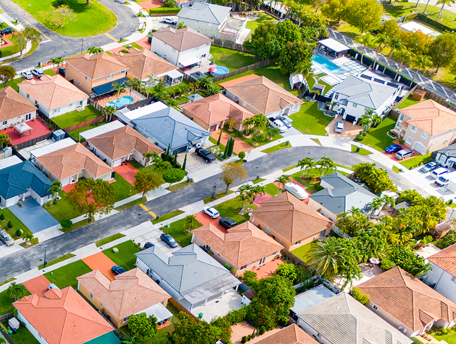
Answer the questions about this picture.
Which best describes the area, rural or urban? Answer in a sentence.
It looks urban.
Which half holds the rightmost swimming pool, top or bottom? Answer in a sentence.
The top half of the photo is where the rightmost swimming pool is.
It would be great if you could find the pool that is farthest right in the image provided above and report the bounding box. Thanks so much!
[311,54,348,74]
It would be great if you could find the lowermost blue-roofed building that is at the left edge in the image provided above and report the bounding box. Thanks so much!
[0,155,51,208]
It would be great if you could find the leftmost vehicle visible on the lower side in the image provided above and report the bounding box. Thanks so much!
[0,227,16,245]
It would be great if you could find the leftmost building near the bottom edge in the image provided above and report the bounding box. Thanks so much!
[15,282,120,344]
